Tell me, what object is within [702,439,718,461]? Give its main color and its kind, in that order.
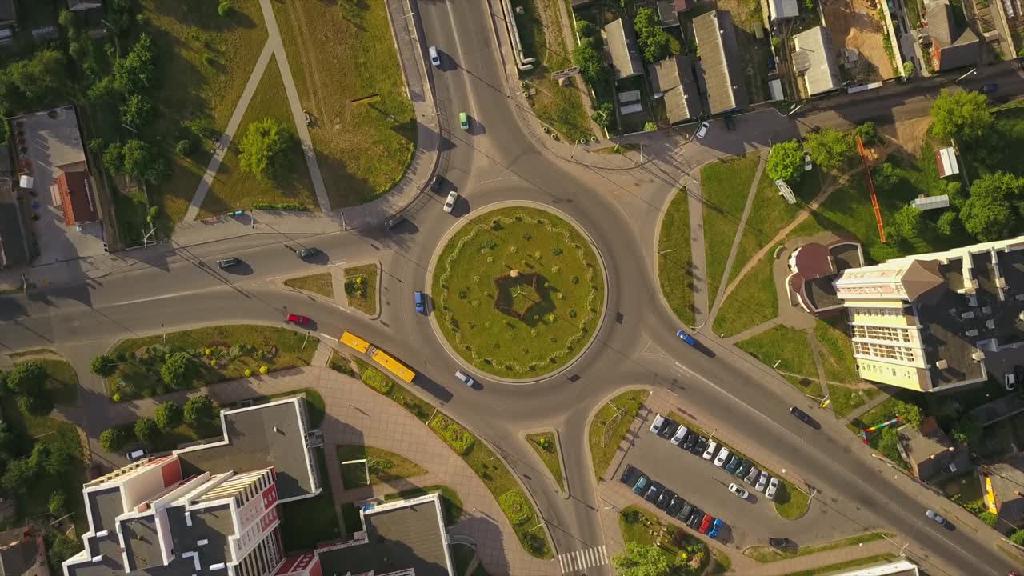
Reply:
white car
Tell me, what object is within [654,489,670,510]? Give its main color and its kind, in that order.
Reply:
black car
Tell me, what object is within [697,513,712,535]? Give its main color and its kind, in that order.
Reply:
red car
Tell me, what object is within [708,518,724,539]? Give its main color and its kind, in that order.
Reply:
blue car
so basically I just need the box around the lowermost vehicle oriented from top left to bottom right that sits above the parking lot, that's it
[789,407,810,423]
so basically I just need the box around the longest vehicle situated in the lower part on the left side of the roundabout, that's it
[336,333,420,385]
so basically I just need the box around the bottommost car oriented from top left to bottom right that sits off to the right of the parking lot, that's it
[923,509,946,526]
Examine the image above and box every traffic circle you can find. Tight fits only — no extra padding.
[425,200,607,382]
